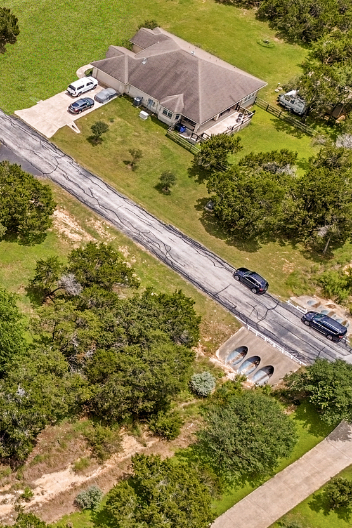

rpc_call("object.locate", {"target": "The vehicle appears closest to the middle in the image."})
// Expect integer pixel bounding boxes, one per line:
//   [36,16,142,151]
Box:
[233,265,272,295]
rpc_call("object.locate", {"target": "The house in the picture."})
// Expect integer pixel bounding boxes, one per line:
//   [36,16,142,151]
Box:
[89,27,270,140]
